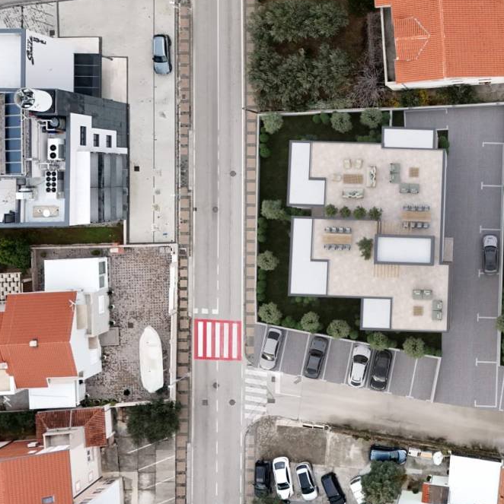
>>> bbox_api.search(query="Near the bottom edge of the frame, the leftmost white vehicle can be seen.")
[273,456,294,499]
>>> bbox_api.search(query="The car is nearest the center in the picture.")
[258,327,283,371]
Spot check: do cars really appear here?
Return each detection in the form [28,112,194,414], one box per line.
[480,233,499,275]
[321,471,346,504]
[305,336,328,379]
[370,349,392,392]
[348,473,376,504]
[296,461,319,500]
[150,32,172,75]
[348,345,372,389]
[253,459,272,496]
[258,327,283,371]
[273,456,294,499]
